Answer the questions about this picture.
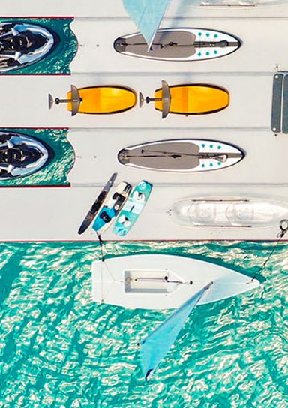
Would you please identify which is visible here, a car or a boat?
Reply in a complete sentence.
The one in the frame is a boat.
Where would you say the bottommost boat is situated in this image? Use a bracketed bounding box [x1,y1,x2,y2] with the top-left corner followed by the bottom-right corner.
[91,254,261,379]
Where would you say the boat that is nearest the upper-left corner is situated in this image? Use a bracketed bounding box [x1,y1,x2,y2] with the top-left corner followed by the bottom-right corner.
[0,27,61,74]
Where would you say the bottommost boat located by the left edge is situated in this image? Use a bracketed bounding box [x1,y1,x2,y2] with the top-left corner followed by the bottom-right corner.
[0,136,55,183]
